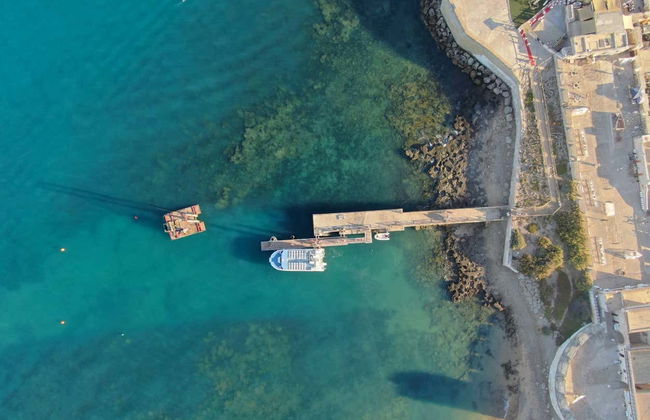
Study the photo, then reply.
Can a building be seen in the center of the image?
No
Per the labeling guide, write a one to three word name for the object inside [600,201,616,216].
umbrella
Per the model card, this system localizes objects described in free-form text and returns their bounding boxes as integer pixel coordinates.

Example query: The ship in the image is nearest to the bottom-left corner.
[161,204,207,240]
